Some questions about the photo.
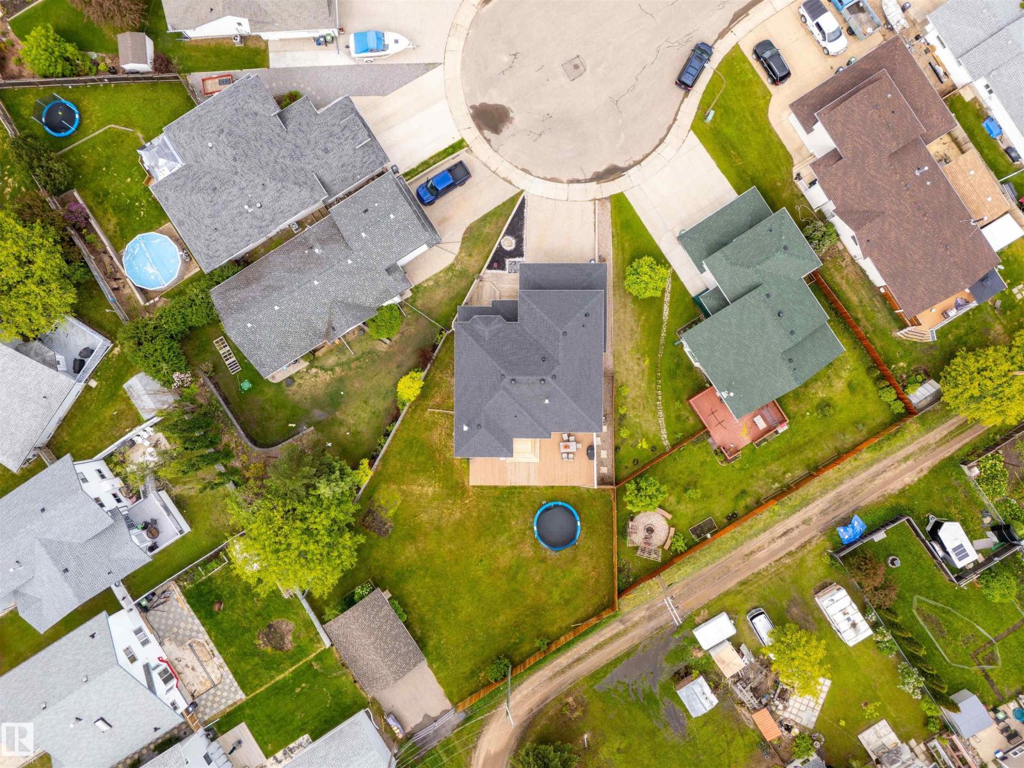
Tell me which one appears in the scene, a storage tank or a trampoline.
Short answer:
trampoline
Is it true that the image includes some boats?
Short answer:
Yes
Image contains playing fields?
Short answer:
No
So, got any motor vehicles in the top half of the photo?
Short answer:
Yes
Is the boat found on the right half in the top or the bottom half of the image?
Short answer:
top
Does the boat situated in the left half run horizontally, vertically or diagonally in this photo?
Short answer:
horizontally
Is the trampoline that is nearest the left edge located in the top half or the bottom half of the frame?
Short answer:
top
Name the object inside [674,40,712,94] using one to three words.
car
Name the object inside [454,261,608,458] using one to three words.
house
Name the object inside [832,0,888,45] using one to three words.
truck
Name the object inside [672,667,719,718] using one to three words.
shed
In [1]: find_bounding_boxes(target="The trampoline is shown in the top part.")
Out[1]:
[27,89,85,139]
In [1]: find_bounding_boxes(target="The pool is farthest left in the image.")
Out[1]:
[122,230,187,291]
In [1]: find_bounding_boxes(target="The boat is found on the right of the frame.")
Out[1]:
[879,0,910,36]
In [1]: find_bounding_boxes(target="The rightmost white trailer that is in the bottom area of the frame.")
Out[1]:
[924,515,979,569]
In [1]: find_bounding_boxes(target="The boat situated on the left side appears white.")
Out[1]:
[344,31,422,64]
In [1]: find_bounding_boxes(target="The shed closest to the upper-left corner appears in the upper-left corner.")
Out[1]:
[117,29,158,71]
